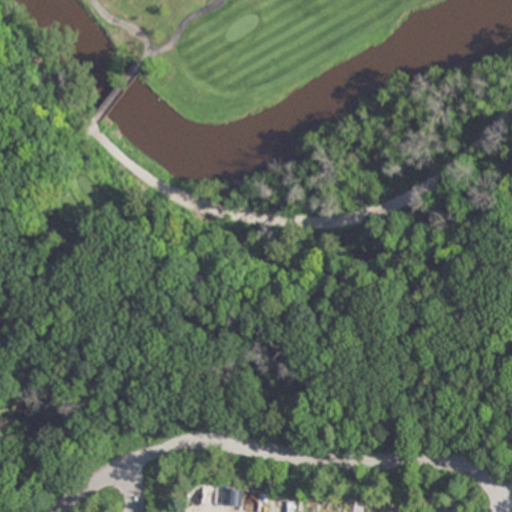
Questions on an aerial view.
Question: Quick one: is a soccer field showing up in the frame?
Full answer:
No, there appears to be no soccer field in this shot.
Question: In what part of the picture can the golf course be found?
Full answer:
The golf course appears toward the top of the photo.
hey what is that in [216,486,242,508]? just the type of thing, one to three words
shed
